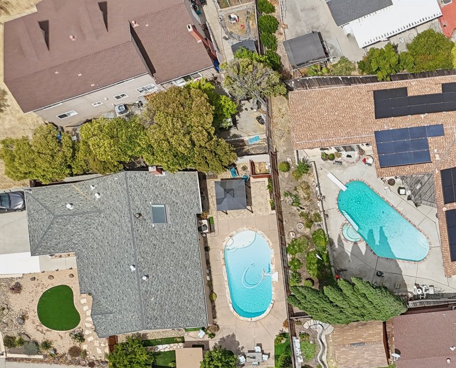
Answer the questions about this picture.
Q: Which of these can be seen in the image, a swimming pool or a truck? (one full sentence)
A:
It is a swimming pool that can be seen here.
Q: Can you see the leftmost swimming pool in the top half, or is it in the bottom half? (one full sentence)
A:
The leftmost swimming pool is in the bottom half of the image.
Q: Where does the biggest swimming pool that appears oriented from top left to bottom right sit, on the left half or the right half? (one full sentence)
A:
The biggest swimming pool that appears oriented from top left to bottom right sits on the right side.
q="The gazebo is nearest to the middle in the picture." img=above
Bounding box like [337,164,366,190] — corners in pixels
[214,180,255,216]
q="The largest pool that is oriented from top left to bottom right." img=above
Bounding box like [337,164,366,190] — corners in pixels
[335,178,432,264]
